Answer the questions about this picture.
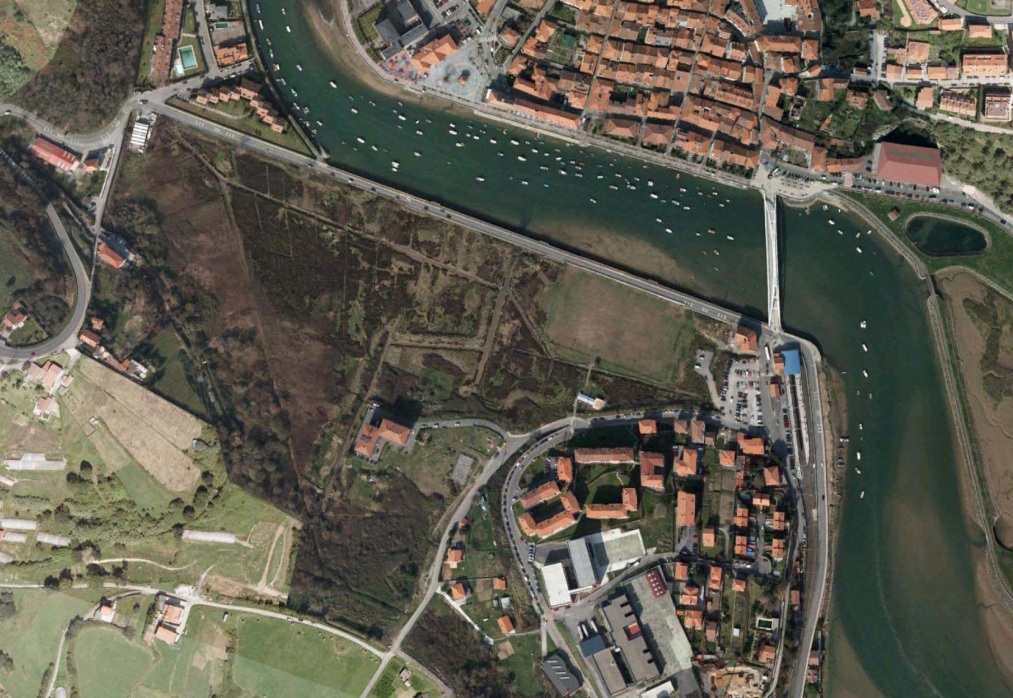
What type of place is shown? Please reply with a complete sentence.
This looks like a residential area.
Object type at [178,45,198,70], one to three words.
swimming pool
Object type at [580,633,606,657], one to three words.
building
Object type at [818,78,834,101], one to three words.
house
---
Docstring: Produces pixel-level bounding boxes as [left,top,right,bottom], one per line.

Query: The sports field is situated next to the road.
[540,265,688,383]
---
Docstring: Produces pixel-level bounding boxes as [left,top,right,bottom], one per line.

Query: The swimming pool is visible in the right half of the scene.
[756,617,779,630]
